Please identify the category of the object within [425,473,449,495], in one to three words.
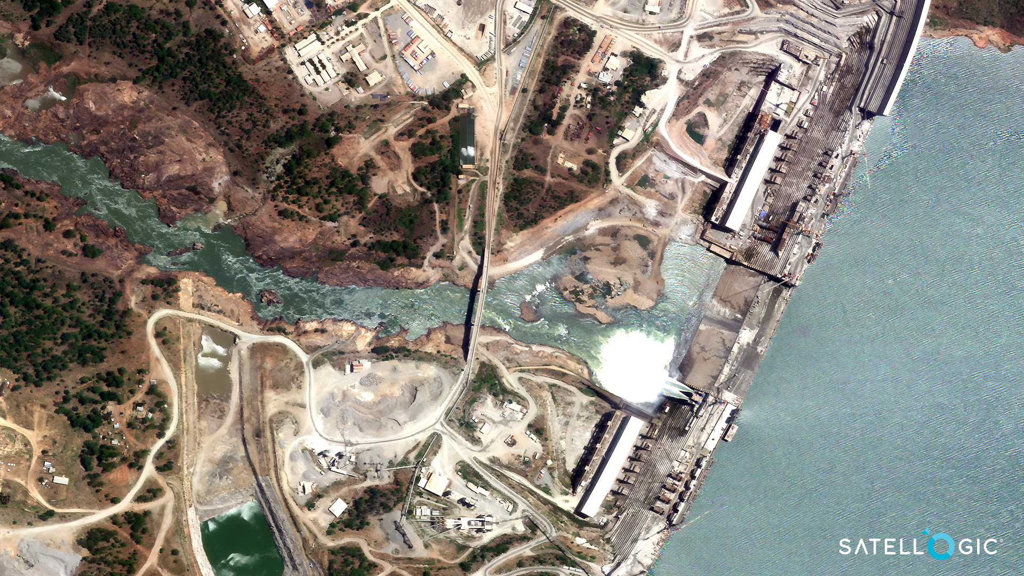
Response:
building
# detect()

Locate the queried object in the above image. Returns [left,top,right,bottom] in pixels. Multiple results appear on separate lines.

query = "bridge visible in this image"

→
[465,244,490,366]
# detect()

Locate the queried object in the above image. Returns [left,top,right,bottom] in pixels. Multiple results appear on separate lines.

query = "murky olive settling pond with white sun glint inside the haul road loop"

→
[198,329,236,395]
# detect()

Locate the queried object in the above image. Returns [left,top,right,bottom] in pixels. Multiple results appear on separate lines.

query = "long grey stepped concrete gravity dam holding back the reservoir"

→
[577,0,931,576]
